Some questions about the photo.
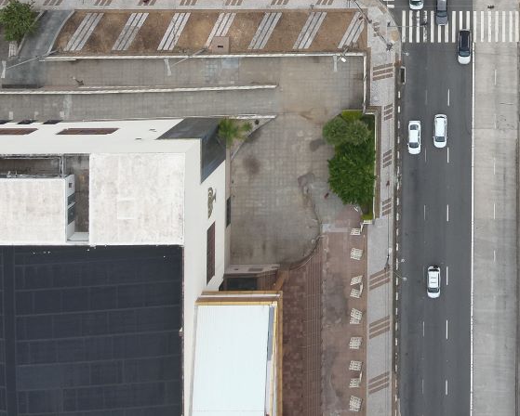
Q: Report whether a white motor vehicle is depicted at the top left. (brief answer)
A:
No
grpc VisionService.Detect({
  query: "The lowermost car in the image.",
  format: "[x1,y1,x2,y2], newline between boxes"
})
[425,265,442,296]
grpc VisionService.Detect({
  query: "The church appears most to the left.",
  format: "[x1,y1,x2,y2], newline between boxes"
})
[0,120,234,416]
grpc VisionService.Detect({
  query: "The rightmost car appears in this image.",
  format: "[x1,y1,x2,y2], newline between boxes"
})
[456,29,473,63]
